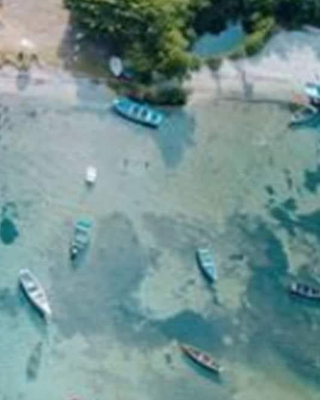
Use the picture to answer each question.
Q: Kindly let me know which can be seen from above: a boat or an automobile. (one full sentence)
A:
Looking from above, you can make out a boat.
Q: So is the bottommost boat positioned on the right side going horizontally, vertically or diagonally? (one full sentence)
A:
The bottommost boat positioned on the right side runs diagonally in the image.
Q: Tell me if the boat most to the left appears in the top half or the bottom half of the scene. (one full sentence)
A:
It is in the bottom half that the boat most to the left appears.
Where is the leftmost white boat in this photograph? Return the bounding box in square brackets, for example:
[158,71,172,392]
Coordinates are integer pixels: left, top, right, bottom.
[20,269,50,326]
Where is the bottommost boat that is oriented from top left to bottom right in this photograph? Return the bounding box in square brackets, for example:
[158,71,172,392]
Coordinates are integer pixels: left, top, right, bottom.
[178,343,230,383]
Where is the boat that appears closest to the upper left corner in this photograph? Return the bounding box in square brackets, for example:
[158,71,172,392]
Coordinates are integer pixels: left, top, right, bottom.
[109,58,122,78]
